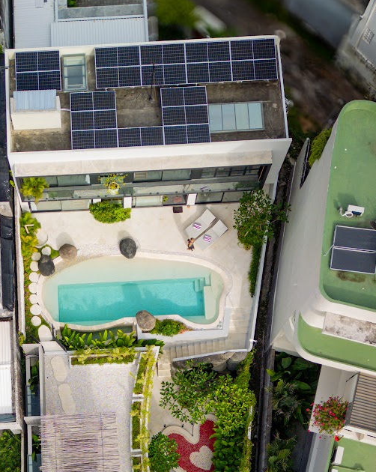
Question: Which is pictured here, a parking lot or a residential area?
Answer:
residential area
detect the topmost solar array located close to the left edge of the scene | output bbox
[15,48,63,91]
